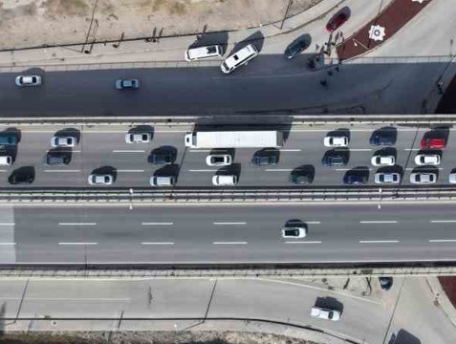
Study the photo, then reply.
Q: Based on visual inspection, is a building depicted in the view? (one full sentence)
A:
No, there's no building here.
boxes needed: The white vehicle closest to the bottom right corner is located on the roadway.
[312,305,341,321]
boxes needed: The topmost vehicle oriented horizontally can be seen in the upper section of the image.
[186,44,226,61]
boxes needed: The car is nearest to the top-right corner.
[326,5,350,31]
